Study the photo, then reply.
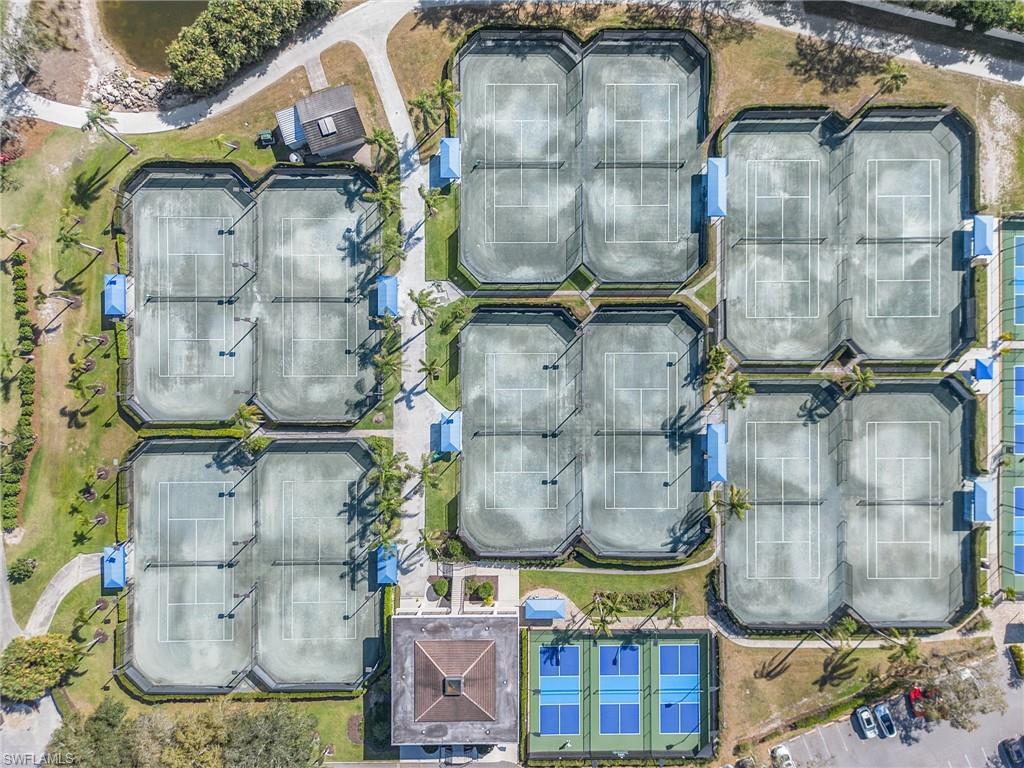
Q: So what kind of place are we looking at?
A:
sports ground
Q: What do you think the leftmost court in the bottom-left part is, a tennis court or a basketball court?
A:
tennis court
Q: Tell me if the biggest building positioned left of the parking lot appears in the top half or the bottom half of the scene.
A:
bottom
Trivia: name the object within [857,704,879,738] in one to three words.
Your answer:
car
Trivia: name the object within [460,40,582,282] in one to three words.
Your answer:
tennis court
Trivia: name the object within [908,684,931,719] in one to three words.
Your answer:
car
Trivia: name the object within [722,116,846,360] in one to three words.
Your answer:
tennis court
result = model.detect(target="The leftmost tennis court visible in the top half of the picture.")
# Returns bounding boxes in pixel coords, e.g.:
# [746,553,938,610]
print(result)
[134,174,256,420]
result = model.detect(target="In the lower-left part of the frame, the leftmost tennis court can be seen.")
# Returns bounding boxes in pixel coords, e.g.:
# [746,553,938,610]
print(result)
[134,440,257,684]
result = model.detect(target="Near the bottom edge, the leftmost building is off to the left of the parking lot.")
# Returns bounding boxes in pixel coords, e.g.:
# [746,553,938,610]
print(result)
[391,574,520,767]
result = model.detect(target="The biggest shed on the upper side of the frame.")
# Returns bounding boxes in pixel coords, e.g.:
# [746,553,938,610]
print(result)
[275,85,369,160]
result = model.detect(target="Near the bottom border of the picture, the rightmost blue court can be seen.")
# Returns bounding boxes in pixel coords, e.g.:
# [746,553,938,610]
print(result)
[651,636,710,753]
